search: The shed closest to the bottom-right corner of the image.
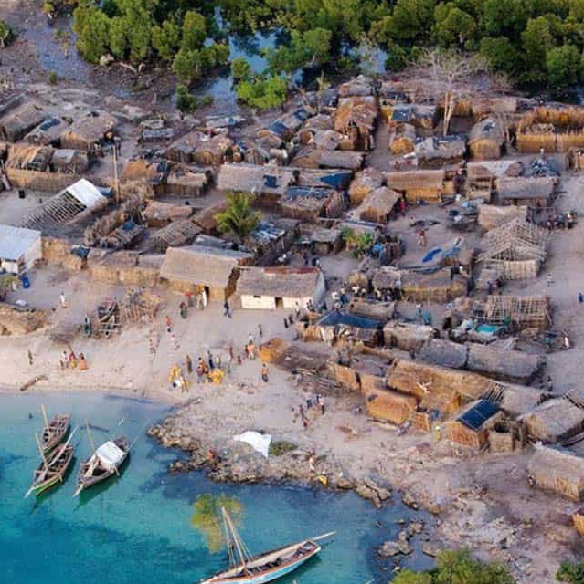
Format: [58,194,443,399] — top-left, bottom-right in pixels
[525,424,584,507]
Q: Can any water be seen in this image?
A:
Yes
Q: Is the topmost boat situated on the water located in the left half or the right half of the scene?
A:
left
